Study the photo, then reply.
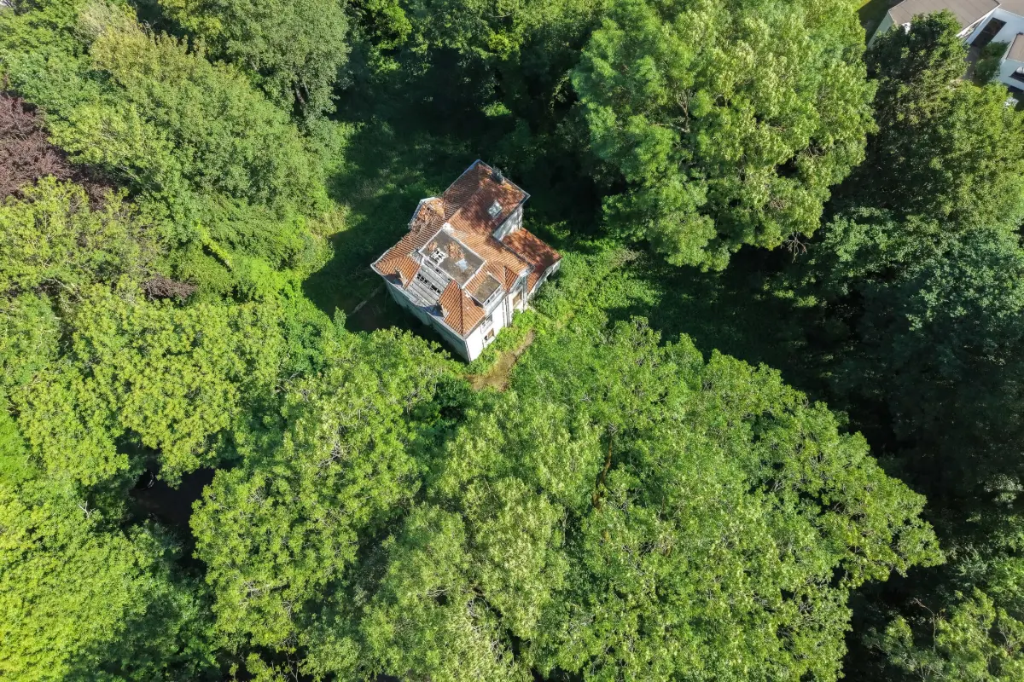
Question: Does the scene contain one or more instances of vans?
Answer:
No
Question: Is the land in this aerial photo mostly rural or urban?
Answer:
rural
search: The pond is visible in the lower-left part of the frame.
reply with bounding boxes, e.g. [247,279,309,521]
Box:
[136,465,223,553]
